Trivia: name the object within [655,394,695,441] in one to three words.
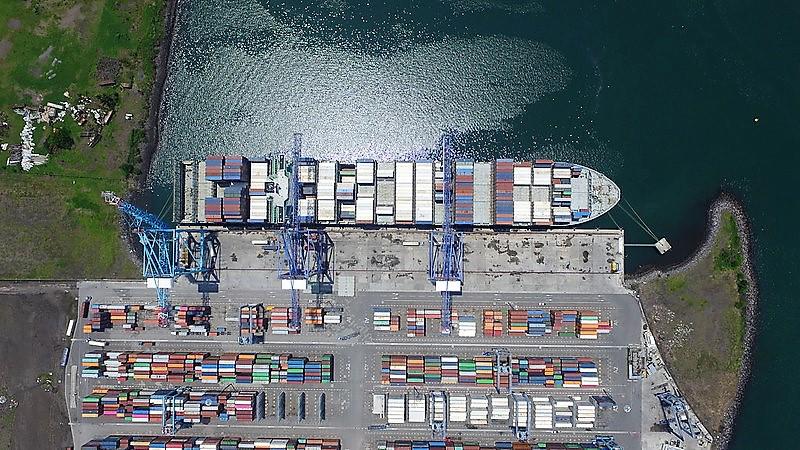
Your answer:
crane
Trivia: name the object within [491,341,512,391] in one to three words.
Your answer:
container crane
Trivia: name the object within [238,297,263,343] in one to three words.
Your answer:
container crane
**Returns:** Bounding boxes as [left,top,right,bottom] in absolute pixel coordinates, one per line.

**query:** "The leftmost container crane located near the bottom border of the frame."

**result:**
[161,382,190,432]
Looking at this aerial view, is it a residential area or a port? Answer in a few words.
port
